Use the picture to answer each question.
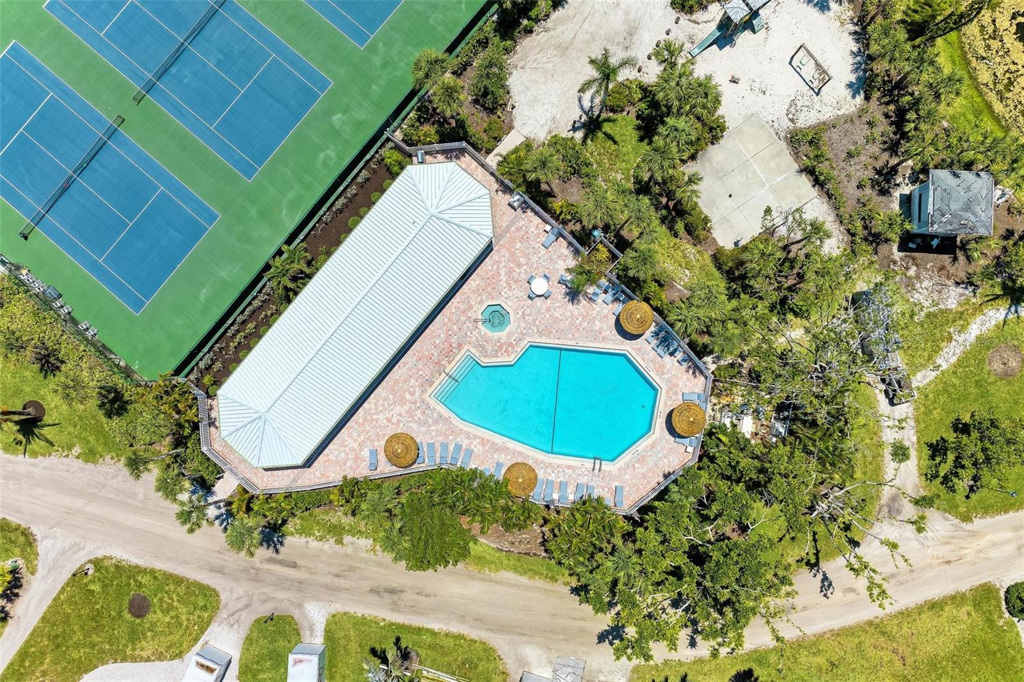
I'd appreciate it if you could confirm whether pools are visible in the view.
Yes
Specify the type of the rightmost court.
basketball court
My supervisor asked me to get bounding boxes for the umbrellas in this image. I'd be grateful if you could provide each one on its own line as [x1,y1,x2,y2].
[619,300,655,335]
[502,461,538,497]
[671,401,707,437]
[383,432,419,468]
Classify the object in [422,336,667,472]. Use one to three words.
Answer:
swimming pool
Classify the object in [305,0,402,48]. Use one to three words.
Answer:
tennis court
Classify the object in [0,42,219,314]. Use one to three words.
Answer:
tennis court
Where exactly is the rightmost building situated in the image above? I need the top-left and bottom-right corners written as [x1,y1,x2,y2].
[903,168,994,258]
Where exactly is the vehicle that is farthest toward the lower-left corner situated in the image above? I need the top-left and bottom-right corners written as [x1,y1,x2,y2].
[182,643,231,682]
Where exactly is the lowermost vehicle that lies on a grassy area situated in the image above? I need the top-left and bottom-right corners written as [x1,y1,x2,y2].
[288,643,326,682]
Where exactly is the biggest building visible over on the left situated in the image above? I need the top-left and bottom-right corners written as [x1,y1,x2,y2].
[216,161,494,469]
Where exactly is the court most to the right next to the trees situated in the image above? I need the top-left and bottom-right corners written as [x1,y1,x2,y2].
[685,113,818,248]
